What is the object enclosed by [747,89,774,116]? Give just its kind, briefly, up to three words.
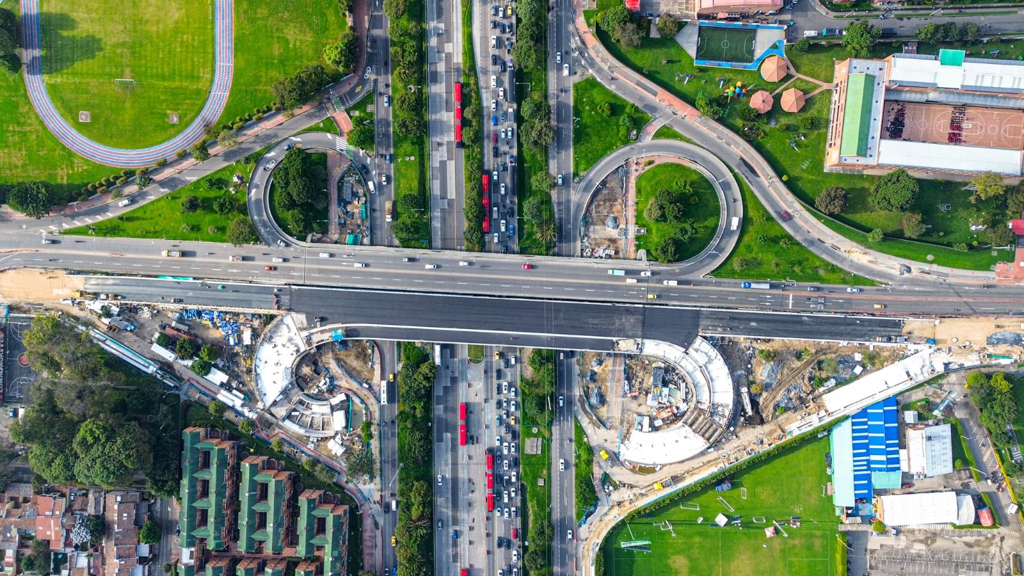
gazebo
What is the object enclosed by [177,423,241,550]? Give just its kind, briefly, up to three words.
building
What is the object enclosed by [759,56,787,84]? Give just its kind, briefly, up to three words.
gazebo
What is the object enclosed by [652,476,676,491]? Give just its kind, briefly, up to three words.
vehicle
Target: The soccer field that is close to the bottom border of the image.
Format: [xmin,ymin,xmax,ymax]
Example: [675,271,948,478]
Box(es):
[595,429,838,576]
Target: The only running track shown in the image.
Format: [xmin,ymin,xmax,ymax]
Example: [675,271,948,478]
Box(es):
[20,0,234,168]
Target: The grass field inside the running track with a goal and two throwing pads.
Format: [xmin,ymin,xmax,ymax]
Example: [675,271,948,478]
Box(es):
[39,0,215,149]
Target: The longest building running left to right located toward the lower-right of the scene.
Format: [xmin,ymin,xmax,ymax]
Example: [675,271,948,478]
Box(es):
[870,488,974,526]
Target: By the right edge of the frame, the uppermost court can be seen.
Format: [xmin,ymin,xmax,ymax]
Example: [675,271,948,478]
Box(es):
[881,101,1024,150]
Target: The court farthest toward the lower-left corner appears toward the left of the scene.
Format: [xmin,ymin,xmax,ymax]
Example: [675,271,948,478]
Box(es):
[0,317,42,404]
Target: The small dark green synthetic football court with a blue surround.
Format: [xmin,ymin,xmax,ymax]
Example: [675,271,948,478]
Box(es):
[679,20,785,71]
